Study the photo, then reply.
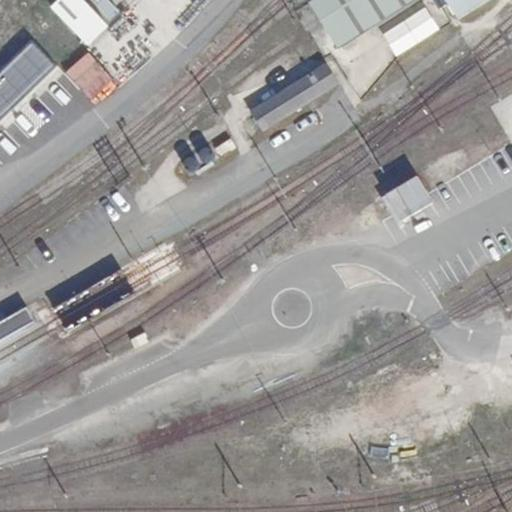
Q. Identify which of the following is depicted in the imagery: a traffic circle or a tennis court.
traffic circle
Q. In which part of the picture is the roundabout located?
center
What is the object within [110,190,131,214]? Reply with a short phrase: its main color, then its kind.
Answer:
white vehicle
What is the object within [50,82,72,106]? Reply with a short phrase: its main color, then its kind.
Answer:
white truck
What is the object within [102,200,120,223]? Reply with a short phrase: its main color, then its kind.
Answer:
white car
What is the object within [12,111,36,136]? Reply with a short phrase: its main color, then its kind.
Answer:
white vehicle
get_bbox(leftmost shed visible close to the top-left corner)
[0,40,55,120]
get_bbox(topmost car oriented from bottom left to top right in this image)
[268,67,290,84]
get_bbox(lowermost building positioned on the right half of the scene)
[384,174,436,225]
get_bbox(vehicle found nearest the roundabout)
[412,219,433,234]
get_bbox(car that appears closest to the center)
[270,129,292,146]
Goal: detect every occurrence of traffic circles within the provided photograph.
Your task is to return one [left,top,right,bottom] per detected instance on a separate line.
[232,244,390,346]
